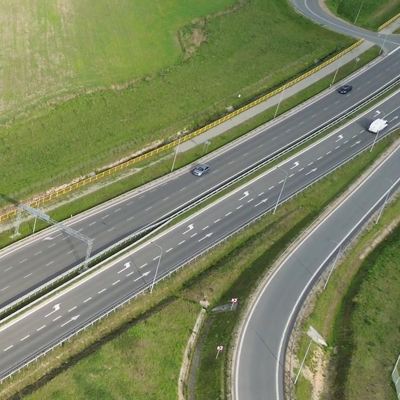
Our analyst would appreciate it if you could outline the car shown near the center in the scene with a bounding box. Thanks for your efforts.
[194,163,212,175]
